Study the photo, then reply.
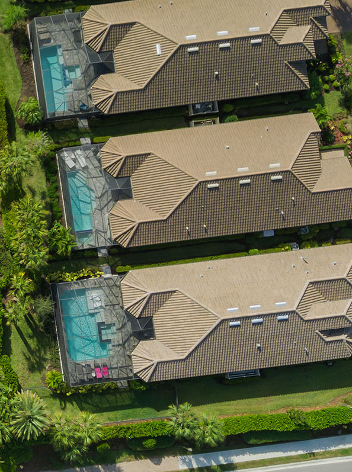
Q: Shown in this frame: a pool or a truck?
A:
pool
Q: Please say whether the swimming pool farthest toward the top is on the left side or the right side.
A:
left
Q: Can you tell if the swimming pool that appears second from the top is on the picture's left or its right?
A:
left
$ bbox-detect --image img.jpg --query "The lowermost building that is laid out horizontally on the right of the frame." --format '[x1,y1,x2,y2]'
[118,242,352,380]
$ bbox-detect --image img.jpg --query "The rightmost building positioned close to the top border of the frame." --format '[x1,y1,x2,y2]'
[80,0,333,116]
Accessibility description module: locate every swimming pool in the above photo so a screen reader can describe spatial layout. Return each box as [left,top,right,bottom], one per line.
[60,288,118,363]
[67,169,98,246]
[40,44,85,113]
